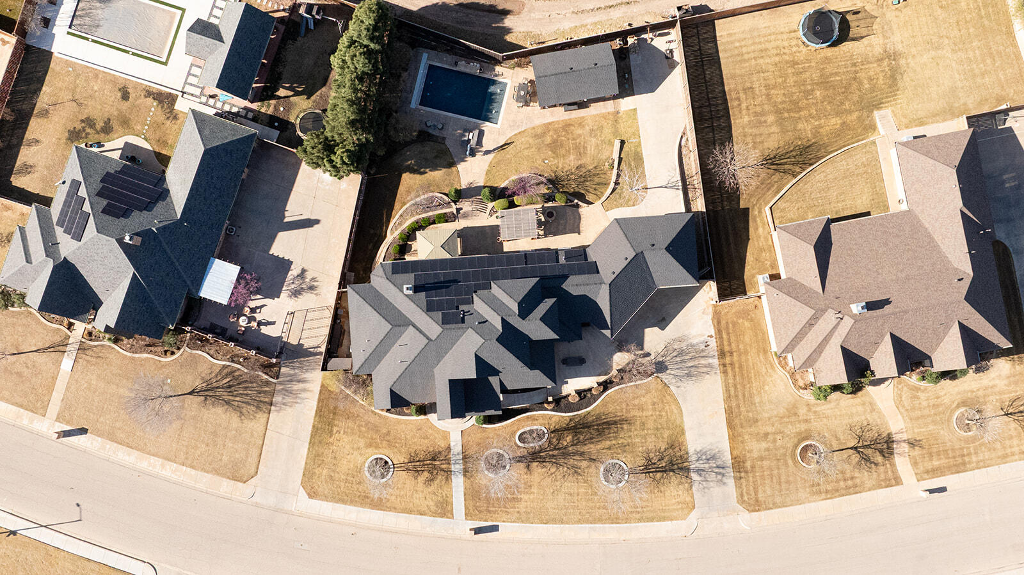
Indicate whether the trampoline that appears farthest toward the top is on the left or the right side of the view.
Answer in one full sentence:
The trampoline that appears farthest toward the top is on the right side of the image.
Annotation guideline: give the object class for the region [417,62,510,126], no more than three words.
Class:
swimming pool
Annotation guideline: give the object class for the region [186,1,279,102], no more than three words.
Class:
building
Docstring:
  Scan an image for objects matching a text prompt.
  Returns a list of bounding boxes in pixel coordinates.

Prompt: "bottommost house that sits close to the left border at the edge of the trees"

[0,107,258,339]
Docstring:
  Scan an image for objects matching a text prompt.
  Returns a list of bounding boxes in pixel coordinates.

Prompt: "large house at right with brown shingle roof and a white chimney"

[757,127,1012,387]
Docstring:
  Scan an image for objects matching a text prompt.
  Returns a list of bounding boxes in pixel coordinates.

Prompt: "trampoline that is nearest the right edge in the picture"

[796,0,849,49]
